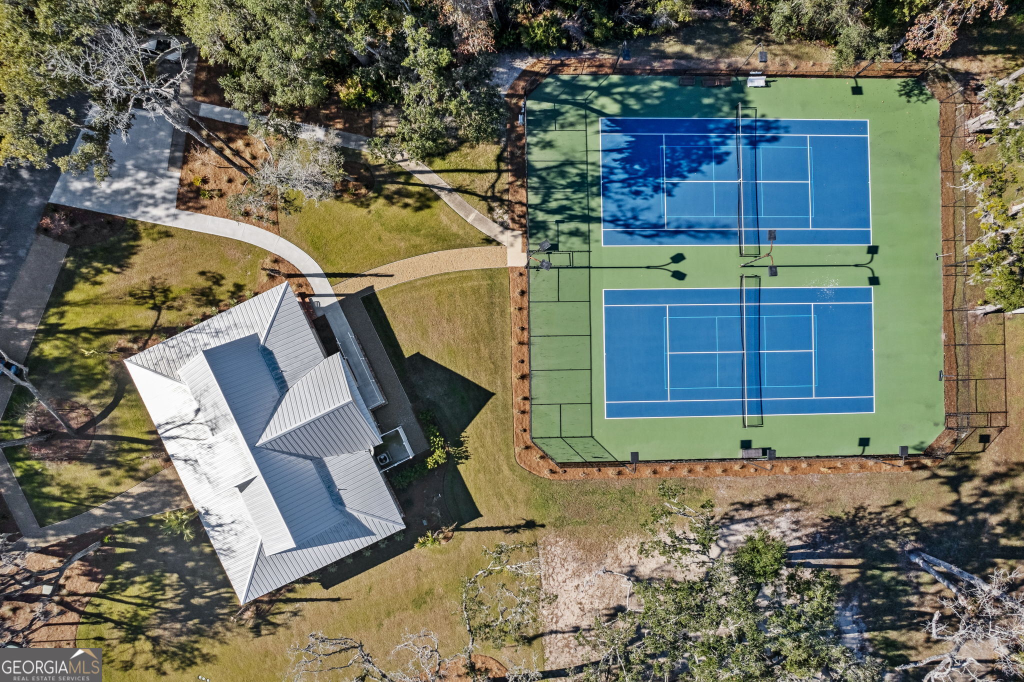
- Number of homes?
1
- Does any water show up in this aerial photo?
No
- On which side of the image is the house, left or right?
left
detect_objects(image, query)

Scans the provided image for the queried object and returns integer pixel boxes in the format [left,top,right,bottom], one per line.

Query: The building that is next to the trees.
[126,283,406,603]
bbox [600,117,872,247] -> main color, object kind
blue tennis court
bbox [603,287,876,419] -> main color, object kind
blue tennis court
